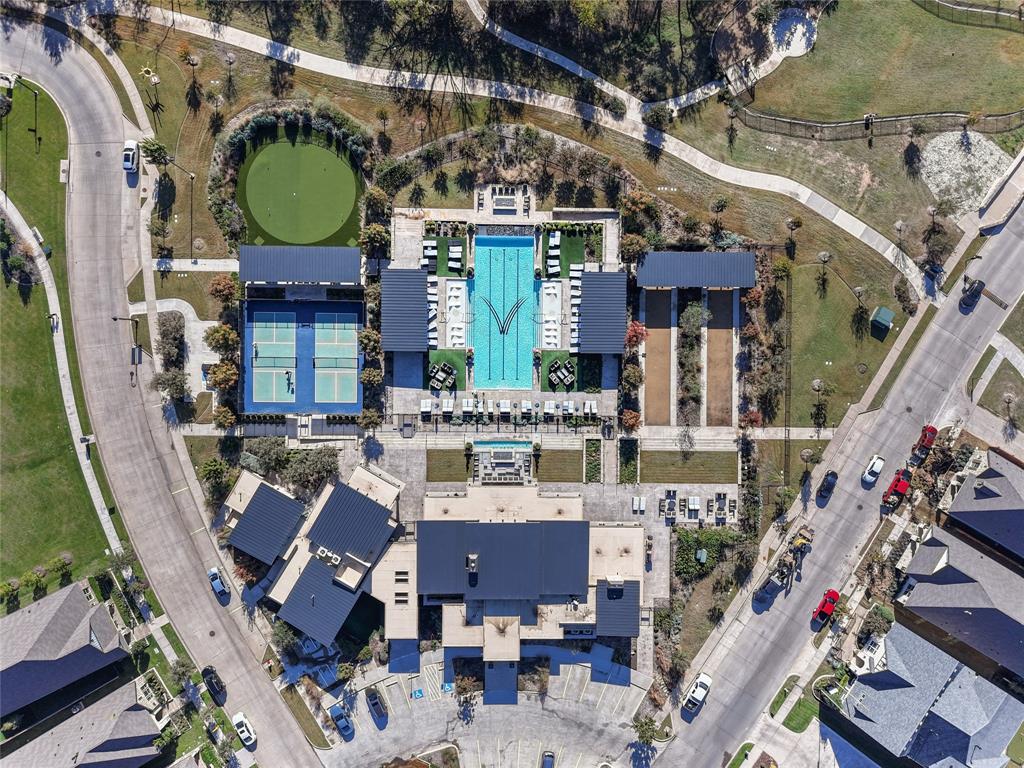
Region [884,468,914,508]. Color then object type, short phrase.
red truck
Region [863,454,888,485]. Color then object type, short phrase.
white car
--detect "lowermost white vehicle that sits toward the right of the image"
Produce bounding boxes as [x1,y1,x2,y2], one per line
[683,674,712,717]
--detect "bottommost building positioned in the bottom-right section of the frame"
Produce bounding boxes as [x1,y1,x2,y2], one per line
[836,622,1024,768]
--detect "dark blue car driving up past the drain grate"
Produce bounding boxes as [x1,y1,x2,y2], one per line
[961,276,987,308]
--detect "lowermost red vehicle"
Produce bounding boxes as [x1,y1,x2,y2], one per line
[814,589,841,626]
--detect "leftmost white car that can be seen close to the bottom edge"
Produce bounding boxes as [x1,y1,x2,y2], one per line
[230,715,255,748]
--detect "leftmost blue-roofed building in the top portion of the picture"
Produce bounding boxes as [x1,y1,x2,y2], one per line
[237,246,361,288]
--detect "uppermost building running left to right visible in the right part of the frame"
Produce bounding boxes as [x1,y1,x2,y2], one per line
[637,252,756,291]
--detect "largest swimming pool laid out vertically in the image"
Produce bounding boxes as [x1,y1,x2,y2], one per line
[472,225,536,391]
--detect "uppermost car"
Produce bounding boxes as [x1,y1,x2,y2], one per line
[119,139,137,172]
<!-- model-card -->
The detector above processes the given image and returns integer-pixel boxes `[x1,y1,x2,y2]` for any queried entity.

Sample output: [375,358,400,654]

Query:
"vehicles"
[119,139,137,172]
[755,574,786,615]
[790,526,816,555]
[814,589,841,626]
[683,674,712,717]
[884,468,914,508]
[911,421,942,461]
[329,705,355,742]
[961,276,987,308]
[200,667,225,701]
[205,567,230,600]
[863,454,888,485]
[365,689,388,722]
[817,468,840,500]
[541,752,556,768]
[230,715,255,748]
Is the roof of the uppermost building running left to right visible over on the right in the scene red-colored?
No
